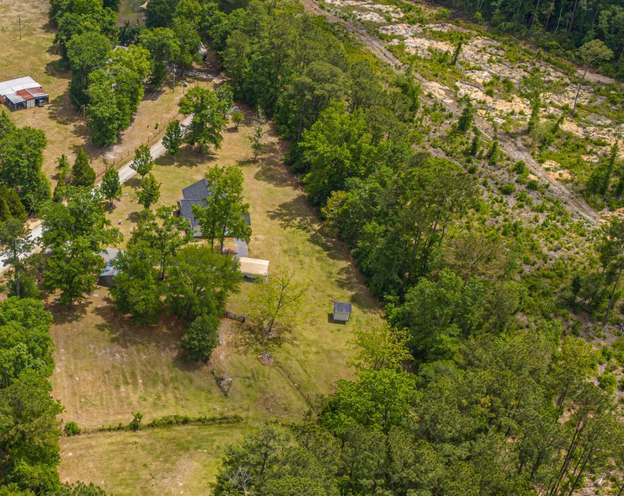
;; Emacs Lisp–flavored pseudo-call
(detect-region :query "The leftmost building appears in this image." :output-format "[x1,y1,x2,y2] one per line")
[0,77,56,111]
